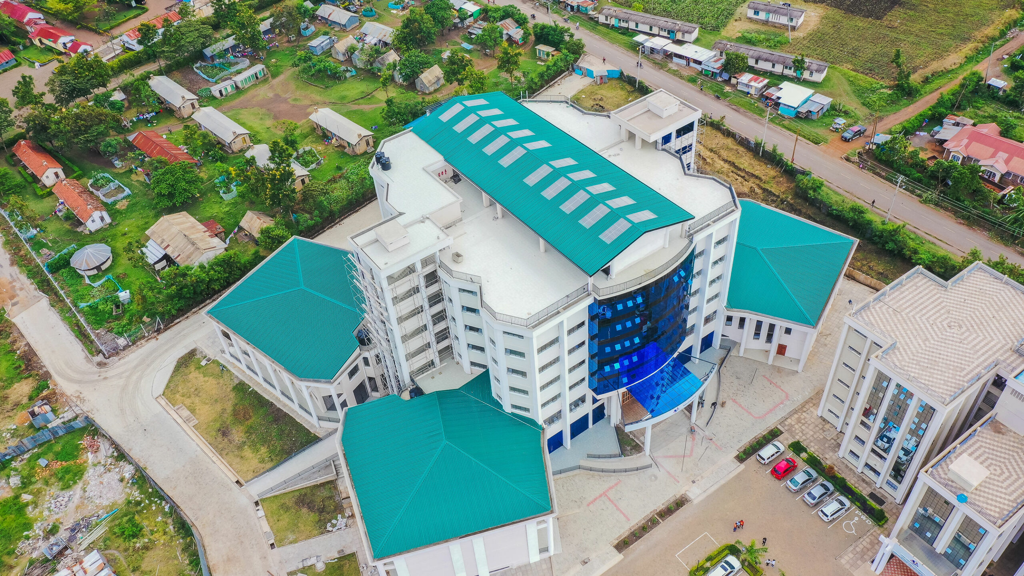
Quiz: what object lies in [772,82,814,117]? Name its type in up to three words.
building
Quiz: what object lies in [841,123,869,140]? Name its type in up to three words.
vehicle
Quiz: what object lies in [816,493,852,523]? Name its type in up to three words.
car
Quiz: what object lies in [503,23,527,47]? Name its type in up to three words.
house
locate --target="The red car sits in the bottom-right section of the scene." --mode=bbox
[772,454,804,480]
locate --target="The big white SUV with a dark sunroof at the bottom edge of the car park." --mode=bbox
[699,552,741,576]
